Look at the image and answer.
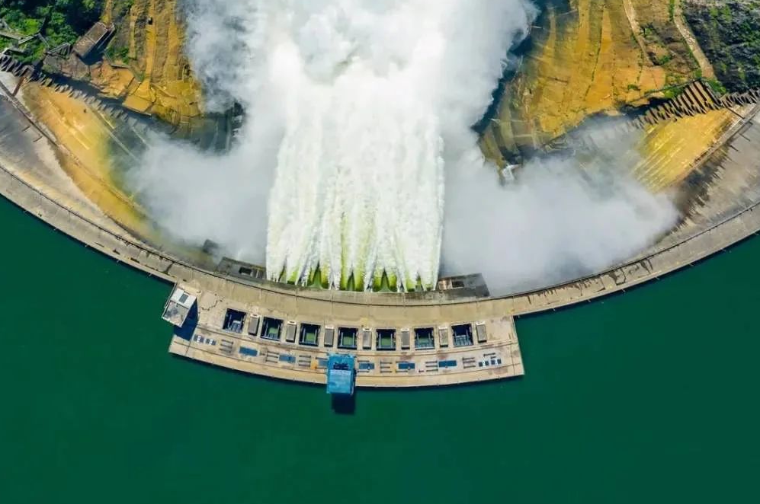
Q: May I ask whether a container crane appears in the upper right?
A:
No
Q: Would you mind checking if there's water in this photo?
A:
Yes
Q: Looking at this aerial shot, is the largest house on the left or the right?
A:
left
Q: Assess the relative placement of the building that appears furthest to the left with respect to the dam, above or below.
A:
above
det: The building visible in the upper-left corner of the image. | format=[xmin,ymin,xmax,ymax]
[73,21,111,57]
